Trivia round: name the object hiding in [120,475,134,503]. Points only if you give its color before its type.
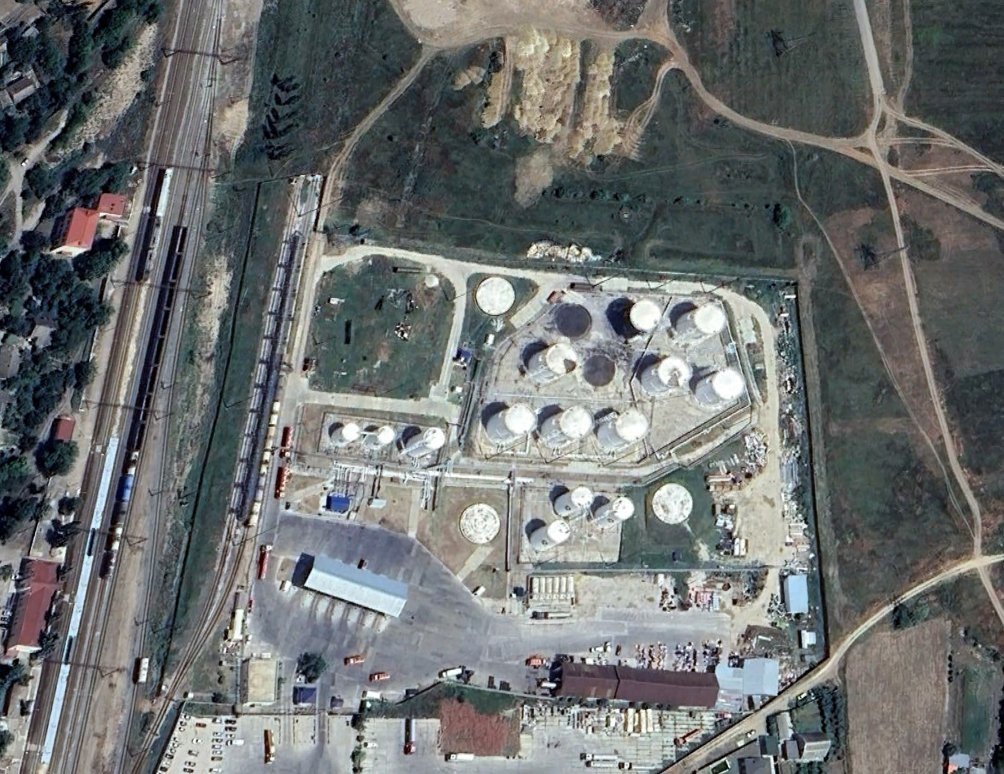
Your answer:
blue rail car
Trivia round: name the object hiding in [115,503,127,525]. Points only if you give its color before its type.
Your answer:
gray rail car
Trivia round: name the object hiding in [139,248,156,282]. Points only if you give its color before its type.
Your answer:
gray rail car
